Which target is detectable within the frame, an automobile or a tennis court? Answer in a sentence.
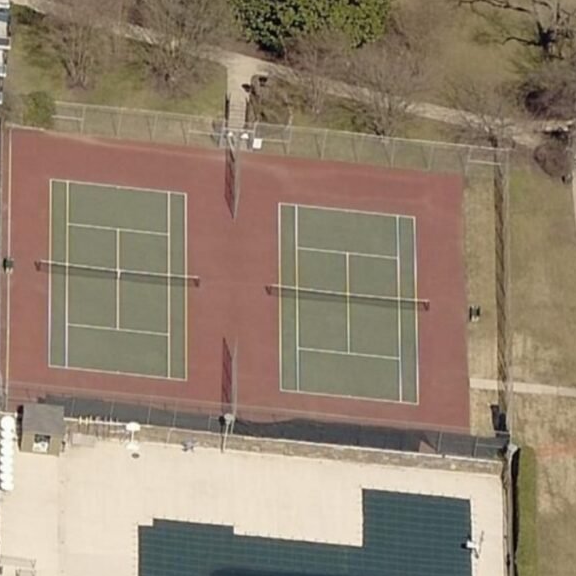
The one in the frame is a tennis court.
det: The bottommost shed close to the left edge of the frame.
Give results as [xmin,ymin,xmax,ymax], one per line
[20,405,63,455]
